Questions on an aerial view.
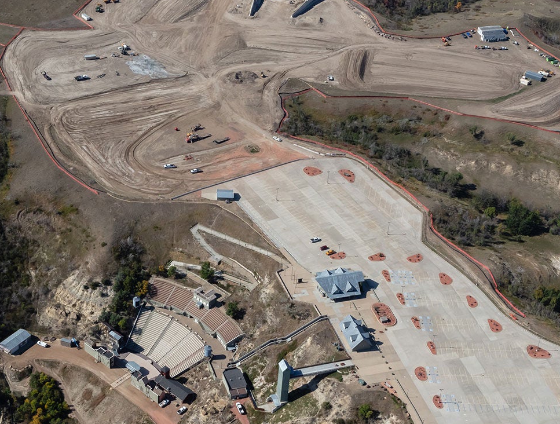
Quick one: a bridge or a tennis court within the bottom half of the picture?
bridge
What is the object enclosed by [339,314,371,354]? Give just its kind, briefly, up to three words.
building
